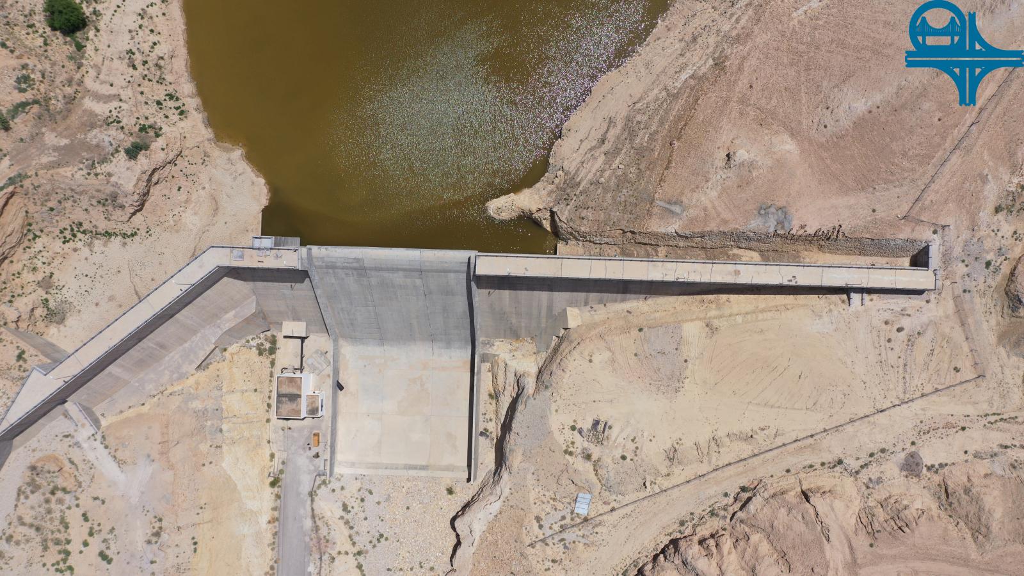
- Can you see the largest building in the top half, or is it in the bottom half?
bottom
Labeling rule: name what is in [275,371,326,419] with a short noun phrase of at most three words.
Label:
building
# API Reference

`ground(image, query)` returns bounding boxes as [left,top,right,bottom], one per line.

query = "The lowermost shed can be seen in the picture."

[574,491,592,513]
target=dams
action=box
[0,244,942,483]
